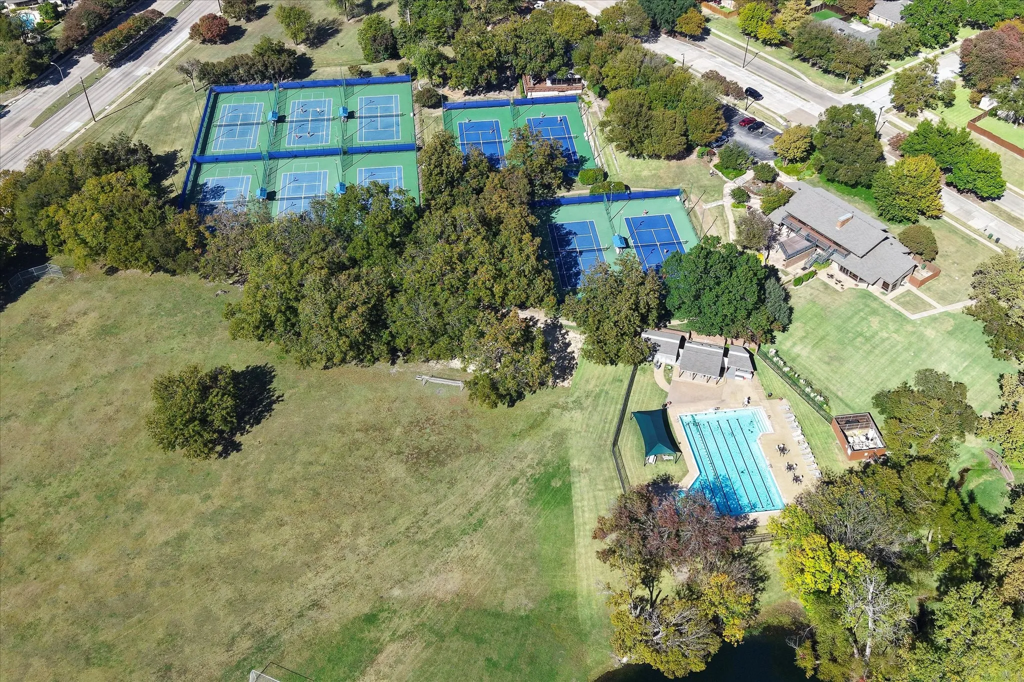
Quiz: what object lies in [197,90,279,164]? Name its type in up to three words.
tennis court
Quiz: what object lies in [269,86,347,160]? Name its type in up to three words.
tennis court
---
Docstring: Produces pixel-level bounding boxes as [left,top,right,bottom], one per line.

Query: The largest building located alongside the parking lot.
[767,182,917,293]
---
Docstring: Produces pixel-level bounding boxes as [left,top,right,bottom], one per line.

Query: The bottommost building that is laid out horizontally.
[644,330,756,385]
